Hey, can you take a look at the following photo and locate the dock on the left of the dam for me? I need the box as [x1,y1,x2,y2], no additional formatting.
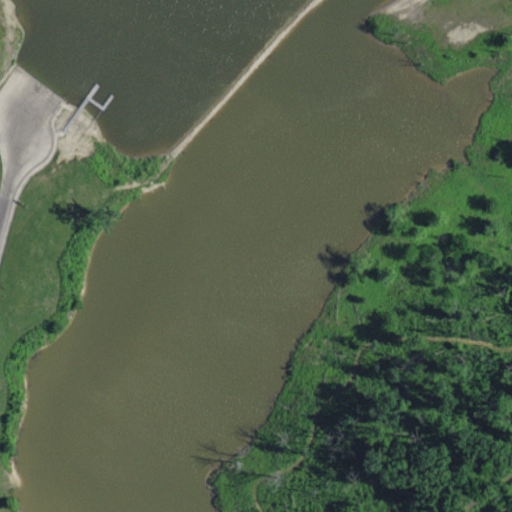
[61,84,114,138]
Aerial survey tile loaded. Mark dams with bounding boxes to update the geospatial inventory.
[160,0,330,170]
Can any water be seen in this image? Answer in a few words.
Yes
